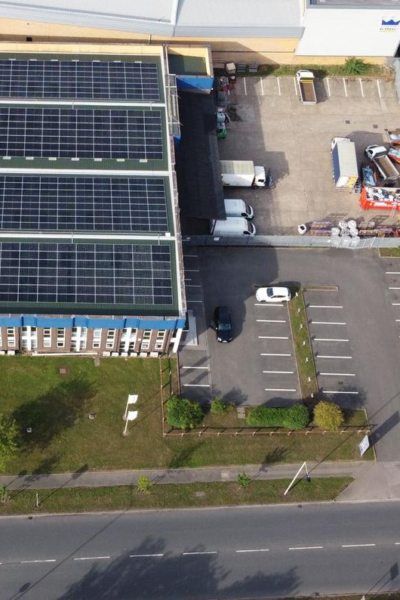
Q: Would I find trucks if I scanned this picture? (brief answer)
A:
Yes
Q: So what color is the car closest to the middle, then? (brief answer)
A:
black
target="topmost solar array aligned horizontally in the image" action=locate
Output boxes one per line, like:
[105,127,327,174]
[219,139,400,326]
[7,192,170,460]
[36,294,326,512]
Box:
[0,59,158,100]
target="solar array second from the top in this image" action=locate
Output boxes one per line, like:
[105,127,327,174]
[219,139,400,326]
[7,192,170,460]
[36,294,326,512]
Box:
[0,107,162,161]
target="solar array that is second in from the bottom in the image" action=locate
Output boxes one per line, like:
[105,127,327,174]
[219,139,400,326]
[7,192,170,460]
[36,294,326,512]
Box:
[0,175,168,231]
